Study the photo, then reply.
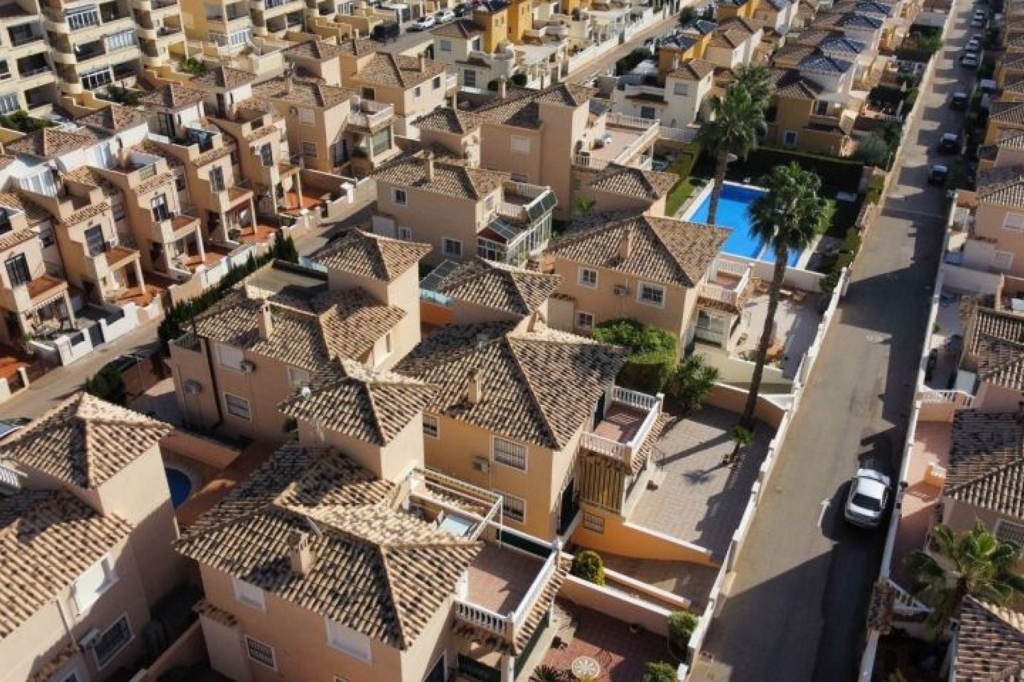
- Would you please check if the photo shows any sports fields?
No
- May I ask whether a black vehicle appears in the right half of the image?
Yes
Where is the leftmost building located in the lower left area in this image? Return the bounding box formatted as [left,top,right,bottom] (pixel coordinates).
[0,395,193,682]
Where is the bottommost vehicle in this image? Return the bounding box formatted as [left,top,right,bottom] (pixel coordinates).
[844,470,889,530]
